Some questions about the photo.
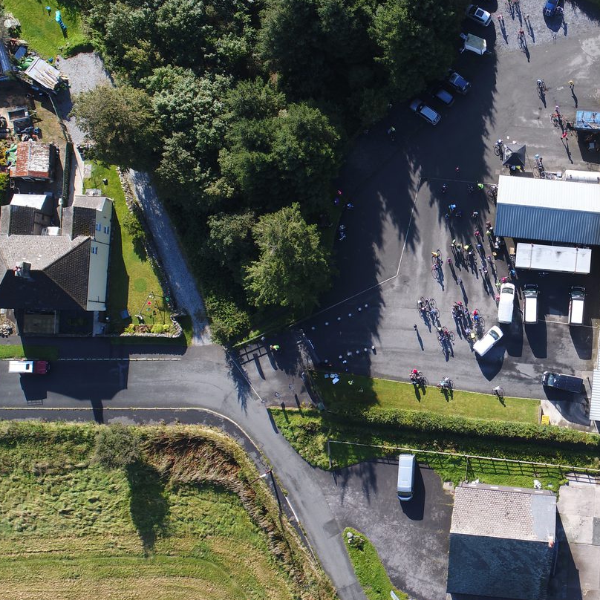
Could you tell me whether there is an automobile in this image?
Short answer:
Yes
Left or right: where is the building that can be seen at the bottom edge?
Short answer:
right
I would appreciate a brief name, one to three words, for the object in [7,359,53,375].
car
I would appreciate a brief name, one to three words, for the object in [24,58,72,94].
shed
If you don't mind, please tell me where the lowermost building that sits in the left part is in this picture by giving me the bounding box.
[0,194,114,316]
